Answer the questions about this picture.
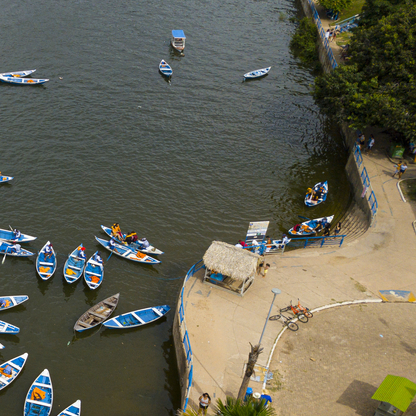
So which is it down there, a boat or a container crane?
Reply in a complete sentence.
Looking from above, you can make out a boat.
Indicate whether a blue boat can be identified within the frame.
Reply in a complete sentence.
Yes, the image includes a blue boat.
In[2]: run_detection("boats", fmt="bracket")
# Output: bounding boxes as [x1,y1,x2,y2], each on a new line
[85,252,104,292]
[0,70,36,78]
[24,368,54,416]
[56,400,80,416]
[0,320,21,336]
[302,181,329,208]
[170,23,186,56]
[0,77,49,85]
[64,244,87,286]
[244,67,272,81]
[0,228,37,243]
[0,353,28,390]
[0,240,34,258]
[159,60,173,79]
[0,296,30,311]
[95,236,162,266]
[288,215,334,236]
[37,243,57,282]
[102,306,171,329]
[74,293,120,333]
[0,175,13,184]
[100,225,164,256]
